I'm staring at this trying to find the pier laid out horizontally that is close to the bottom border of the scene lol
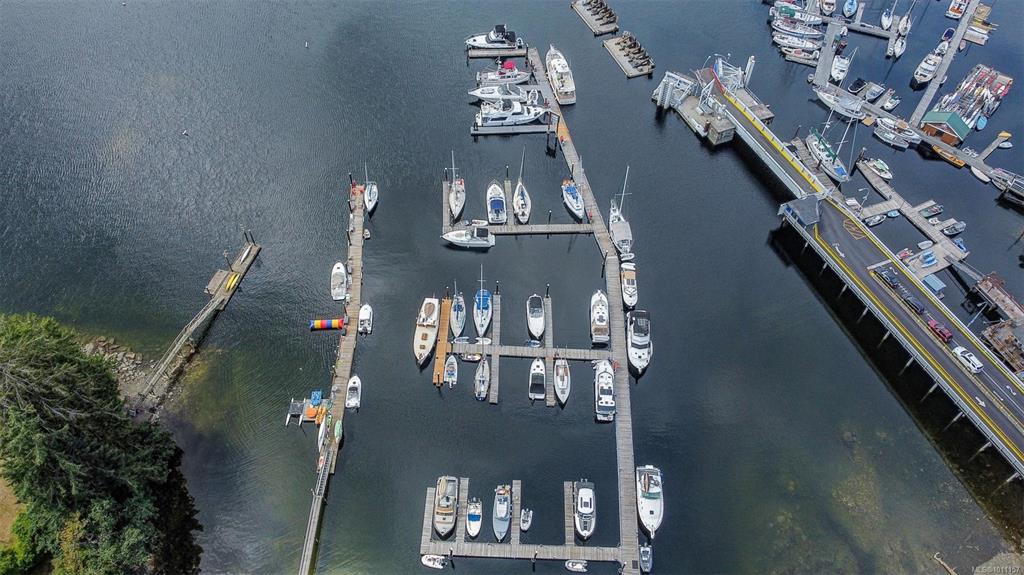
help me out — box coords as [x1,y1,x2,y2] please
[421,543,621,562]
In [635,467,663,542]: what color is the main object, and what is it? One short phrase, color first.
white boat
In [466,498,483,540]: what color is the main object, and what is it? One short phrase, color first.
white boat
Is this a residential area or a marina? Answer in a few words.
marina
